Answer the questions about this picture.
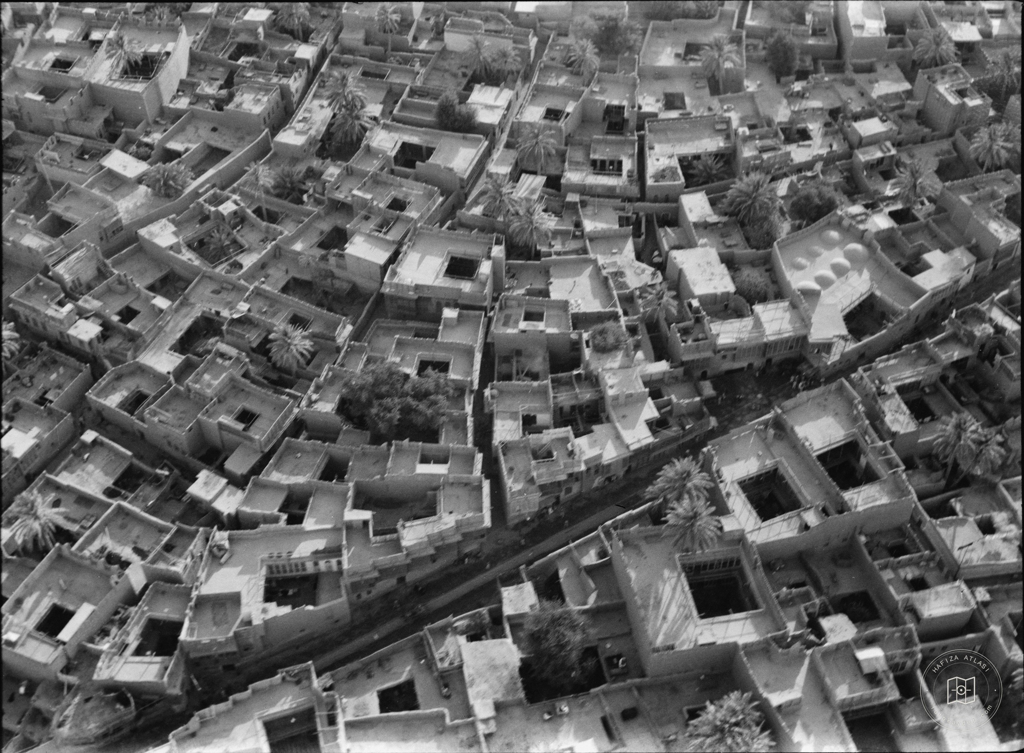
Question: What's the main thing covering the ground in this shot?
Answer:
buildings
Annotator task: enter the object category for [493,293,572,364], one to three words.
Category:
house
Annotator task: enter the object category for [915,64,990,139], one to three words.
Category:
house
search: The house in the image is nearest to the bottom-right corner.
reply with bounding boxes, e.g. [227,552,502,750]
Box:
[936,697,1001,753]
